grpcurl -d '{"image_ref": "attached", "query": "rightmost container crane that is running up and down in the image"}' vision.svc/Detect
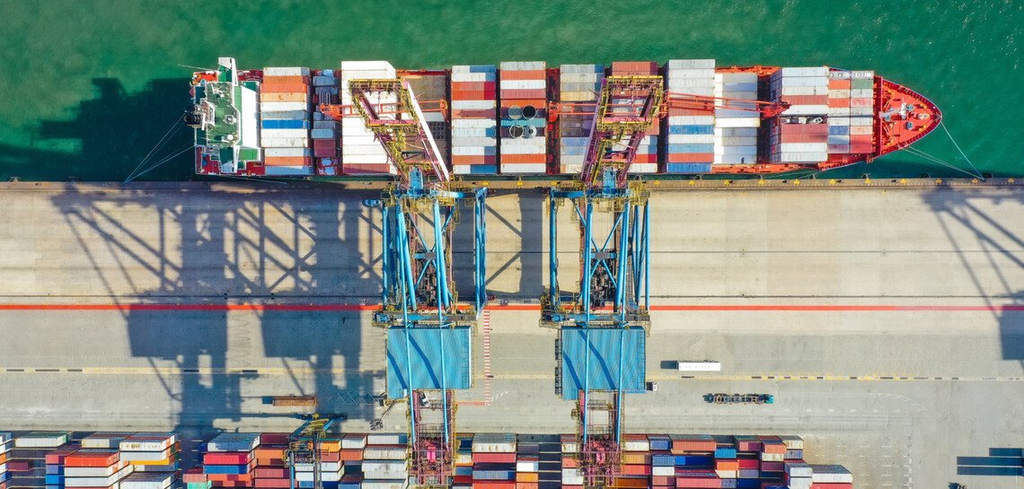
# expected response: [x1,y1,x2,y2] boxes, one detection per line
[539,83,669,489]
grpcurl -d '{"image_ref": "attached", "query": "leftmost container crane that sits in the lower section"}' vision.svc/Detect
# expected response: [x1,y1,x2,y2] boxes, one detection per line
[277,410,350,489]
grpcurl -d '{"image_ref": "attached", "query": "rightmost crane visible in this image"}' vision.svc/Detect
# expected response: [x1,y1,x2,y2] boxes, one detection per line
[664,88,794,118]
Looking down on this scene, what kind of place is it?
port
